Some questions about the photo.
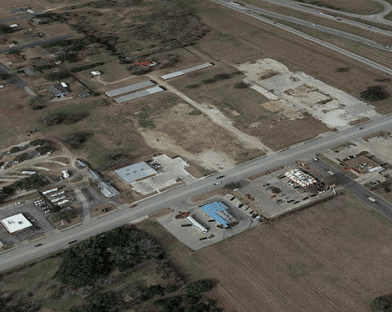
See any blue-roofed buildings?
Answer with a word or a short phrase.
Yes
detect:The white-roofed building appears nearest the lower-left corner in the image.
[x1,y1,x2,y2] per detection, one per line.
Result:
[3,212,34,237]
